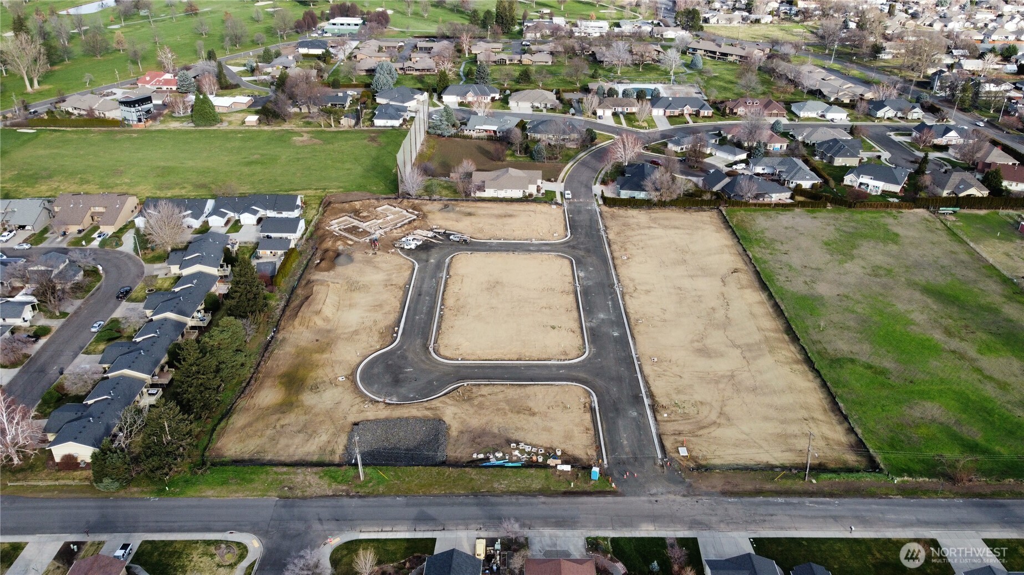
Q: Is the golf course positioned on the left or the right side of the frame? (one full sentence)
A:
It is on the left.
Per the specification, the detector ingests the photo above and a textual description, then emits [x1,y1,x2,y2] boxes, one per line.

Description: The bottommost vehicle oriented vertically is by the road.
[473,530,486,559]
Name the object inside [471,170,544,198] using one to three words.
house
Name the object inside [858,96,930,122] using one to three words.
house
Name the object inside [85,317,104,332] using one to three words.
car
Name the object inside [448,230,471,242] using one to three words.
vehicle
